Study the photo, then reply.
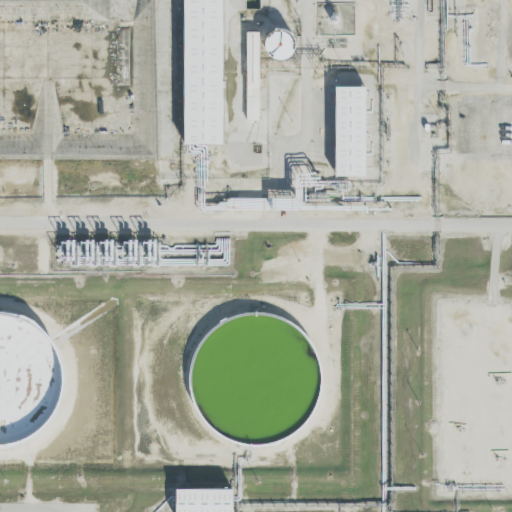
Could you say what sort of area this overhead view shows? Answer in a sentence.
It's an industrial area.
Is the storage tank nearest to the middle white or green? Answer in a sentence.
From above, the storage tank nearest to the middle appears green.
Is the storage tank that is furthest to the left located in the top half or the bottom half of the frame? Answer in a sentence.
The storage tank that is furthest to the left sits in the bottom half of the picture.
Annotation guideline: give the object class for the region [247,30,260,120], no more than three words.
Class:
building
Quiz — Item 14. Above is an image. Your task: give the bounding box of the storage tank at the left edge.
[0,312,62,446]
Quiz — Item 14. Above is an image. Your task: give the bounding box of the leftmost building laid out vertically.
[184,0,222,144]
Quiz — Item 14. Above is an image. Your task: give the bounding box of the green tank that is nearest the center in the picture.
[189,312,322,445]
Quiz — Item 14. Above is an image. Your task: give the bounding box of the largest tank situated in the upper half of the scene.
[265,28,297,60]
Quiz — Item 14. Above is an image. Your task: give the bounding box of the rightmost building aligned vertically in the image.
[336,86,367,176]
